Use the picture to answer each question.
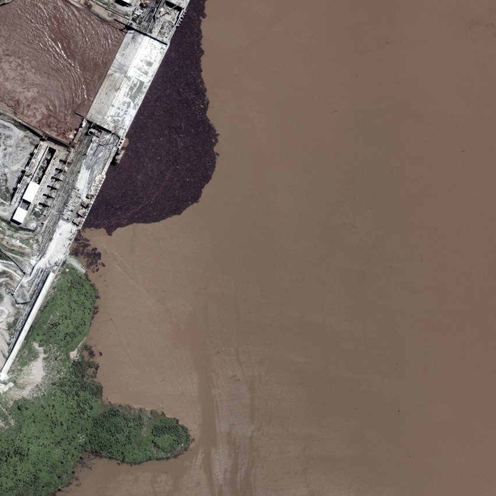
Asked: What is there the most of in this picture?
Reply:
water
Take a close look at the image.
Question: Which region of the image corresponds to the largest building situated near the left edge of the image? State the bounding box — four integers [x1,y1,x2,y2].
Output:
[3,142,70,225]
